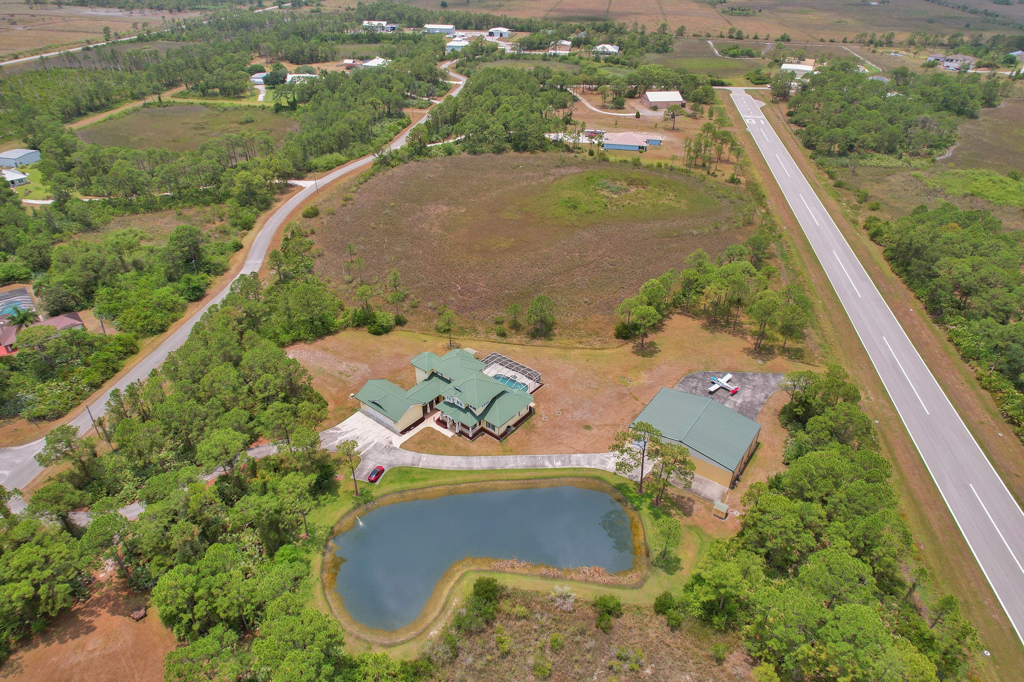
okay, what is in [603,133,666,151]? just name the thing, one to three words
house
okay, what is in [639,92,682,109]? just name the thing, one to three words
barn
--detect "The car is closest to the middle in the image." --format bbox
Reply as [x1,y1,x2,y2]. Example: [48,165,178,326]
[368,465,384,482]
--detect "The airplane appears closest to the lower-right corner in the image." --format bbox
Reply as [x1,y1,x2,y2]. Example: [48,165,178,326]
[708,374,740,393]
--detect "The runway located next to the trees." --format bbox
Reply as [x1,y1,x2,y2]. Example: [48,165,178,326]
[731,93,1024,649]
